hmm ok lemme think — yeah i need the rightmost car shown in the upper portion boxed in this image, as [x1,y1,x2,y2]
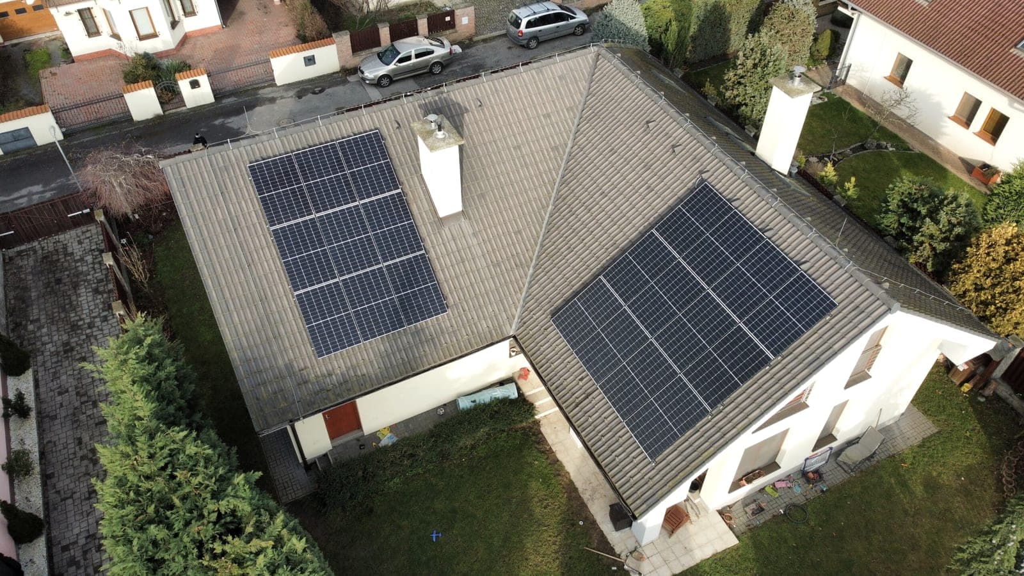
[503,0,594,48]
